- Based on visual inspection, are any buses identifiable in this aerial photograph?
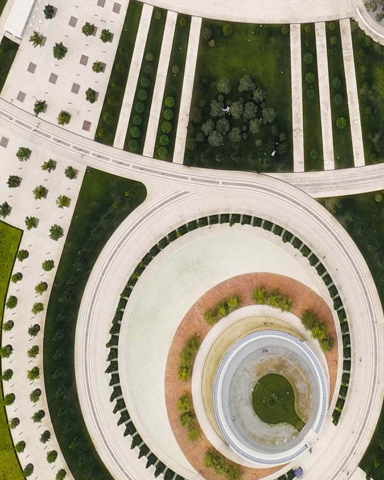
No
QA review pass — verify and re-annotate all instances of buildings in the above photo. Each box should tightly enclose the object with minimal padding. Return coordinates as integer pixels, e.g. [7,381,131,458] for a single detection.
[212,326,330,465]
[3,0,40,44]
